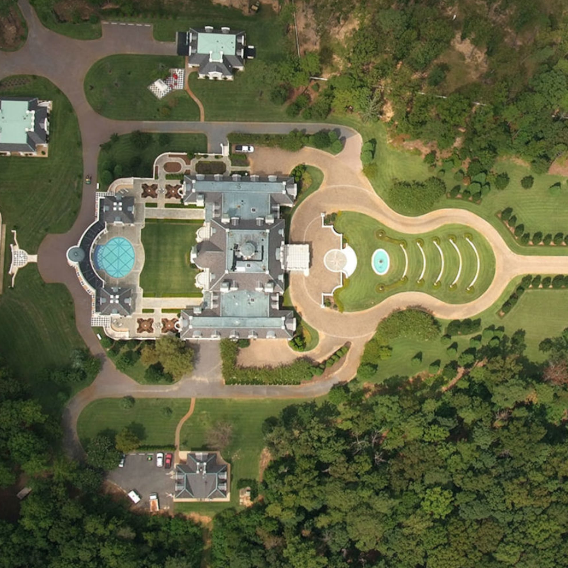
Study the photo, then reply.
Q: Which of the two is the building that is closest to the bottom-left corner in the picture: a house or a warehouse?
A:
house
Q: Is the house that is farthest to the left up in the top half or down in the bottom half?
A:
top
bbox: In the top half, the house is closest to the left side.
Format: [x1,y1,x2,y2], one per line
[0,96,53,158]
